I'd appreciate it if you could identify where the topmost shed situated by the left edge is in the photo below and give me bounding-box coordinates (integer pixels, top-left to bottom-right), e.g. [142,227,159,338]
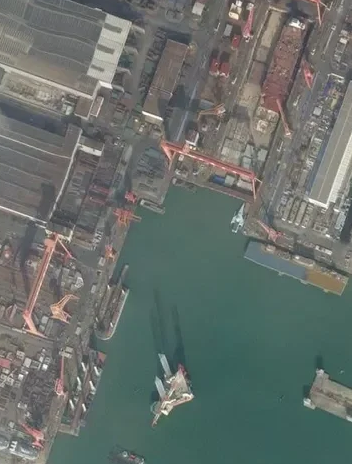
[0,0,133,100]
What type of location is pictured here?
port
